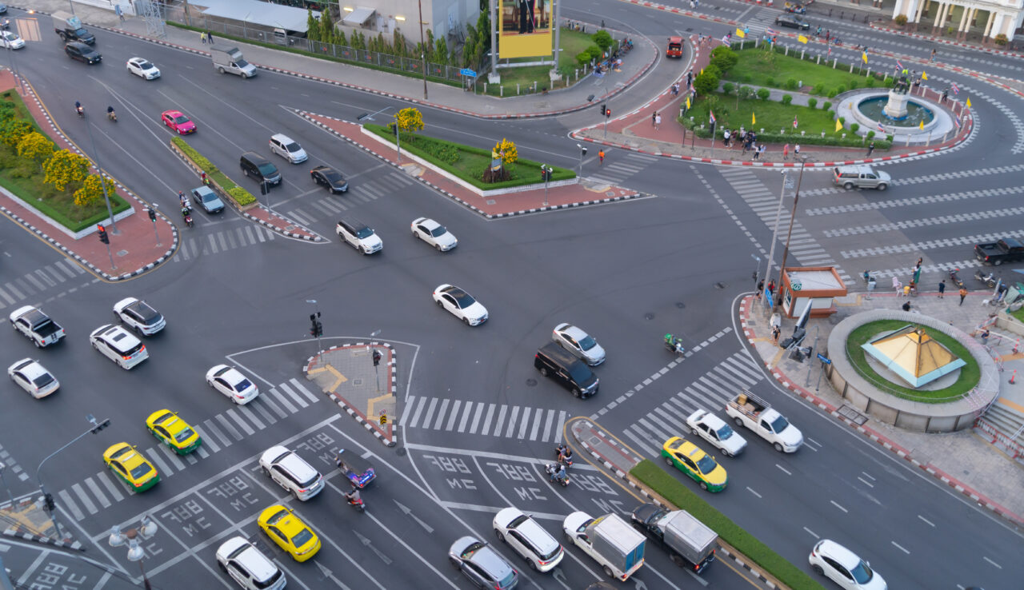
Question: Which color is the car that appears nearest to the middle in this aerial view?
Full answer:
The car that appears nearest to the middle is white.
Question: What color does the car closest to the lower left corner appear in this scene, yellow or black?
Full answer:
The car closest to the lower left corner is yellow.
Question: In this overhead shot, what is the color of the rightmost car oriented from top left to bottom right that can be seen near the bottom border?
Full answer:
The rightmost car oriented from top left to bottom right that can be seen near the bottom border looks white in the image.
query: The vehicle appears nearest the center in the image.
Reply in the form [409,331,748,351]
[433,284,488,325]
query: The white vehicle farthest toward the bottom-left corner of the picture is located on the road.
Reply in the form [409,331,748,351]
[5,356,58,395]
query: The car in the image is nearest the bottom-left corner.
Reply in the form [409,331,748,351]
[102,440,160,489]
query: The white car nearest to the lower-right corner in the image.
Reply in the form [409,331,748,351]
[808,535,882,590]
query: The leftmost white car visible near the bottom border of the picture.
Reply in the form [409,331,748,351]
[214,533,282,590]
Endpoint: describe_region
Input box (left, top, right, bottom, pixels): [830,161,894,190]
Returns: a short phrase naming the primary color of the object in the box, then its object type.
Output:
gray truck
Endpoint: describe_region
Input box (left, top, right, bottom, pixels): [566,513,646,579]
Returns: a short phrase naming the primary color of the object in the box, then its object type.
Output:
white truck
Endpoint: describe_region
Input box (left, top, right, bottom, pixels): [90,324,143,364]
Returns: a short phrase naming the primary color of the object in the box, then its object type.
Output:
white vehicle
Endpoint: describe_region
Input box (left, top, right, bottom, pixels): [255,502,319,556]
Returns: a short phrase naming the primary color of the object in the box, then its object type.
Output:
yellow car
